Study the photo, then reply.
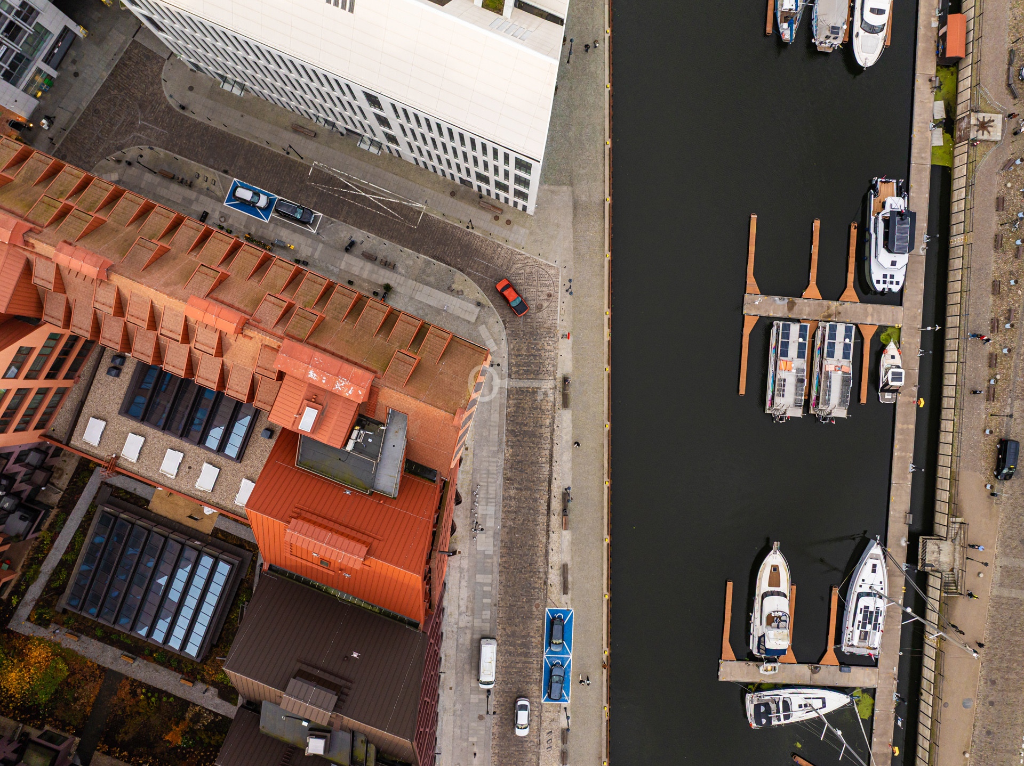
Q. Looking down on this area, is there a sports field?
No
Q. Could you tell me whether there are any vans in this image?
Yes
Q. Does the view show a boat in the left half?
No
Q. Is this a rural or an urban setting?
urban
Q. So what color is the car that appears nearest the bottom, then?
white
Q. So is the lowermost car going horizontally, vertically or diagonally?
vertically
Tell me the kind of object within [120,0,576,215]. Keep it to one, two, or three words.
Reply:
building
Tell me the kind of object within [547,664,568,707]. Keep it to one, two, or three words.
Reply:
car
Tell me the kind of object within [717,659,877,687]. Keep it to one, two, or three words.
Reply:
pier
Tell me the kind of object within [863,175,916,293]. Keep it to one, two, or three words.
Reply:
boat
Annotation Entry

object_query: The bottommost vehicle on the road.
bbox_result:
[511,698,532,741]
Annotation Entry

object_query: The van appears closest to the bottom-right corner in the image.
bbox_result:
[991,433,1022,480]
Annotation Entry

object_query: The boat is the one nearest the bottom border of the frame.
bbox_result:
[732,682,880,766]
